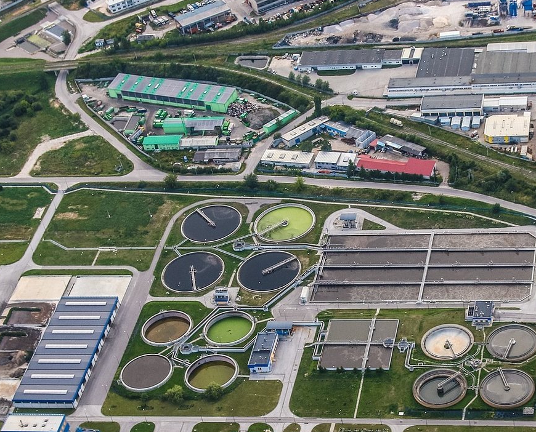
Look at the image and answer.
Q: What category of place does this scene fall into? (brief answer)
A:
industrial area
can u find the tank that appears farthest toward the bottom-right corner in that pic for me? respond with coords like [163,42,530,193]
[479,366,536,411]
